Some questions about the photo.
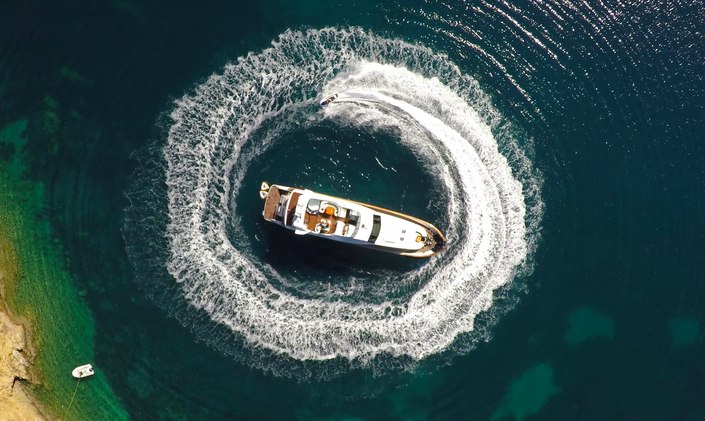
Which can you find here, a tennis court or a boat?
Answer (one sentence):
This aerial view contains a boat.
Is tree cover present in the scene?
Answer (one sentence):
No, no tree cover is visible.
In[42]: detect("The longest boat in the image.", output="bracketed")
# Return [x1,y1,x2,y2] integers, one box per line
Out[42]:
[260,185,445,256]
